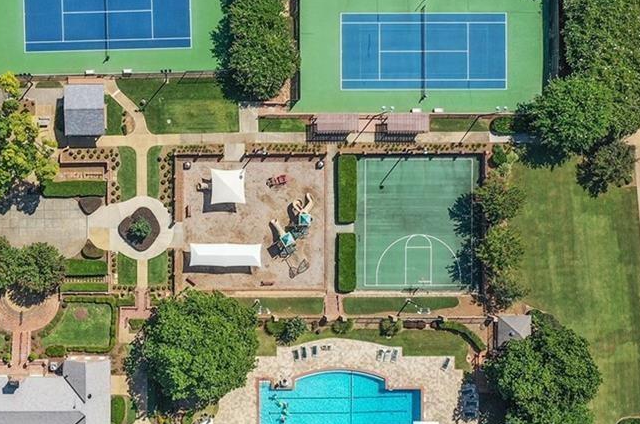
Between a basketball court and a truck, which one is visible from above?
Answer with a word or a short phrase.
basketball court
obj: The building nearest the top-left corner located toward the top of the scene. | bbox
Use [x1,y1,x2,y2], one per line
[62,84,104,136]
